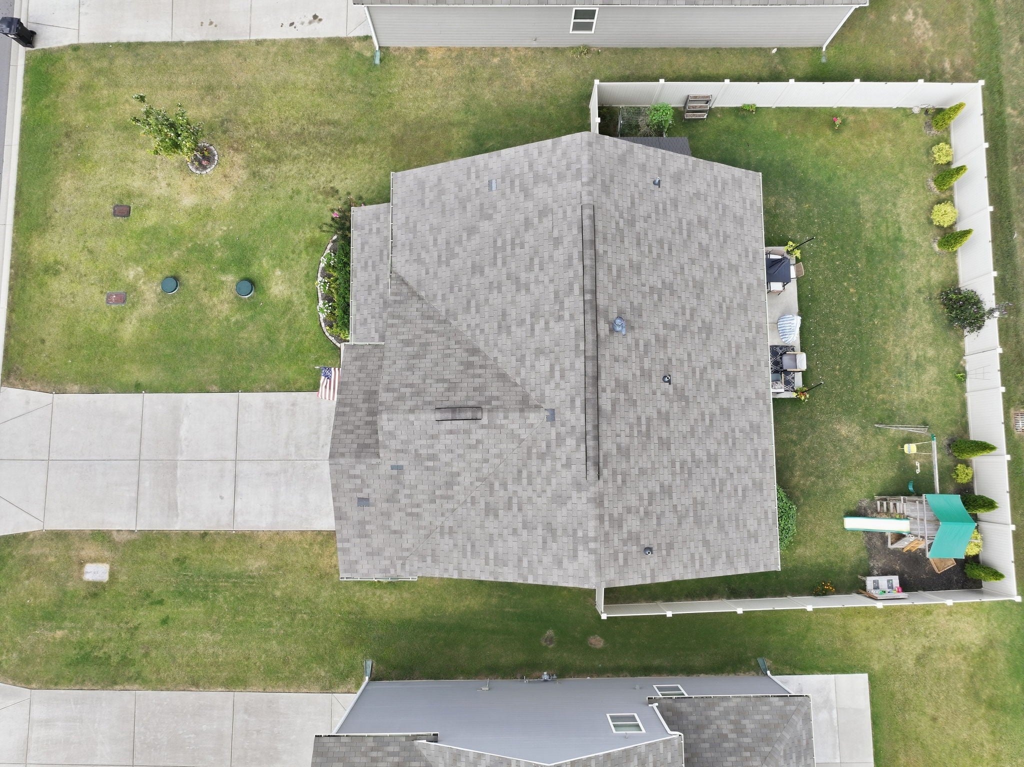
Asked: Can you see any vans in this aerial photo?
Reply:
No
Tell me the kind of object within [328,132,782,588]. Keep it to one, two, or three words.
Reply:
house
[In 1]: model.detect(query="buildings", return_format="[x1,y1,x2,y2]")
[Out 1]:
[311,669,816,767]
[328,132,782,588]
[353,0,869,52]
